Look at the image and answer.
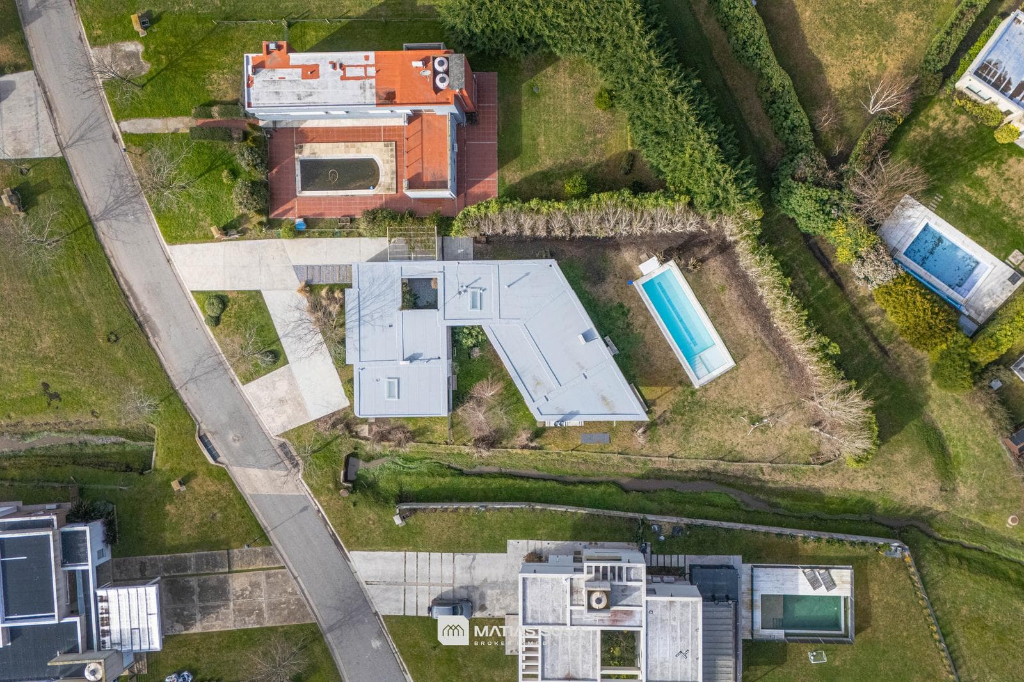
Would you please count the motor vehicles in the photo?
1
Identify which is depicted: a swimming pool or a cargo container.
swimming pool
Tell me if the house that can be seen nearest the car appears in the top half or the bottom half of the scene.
bottom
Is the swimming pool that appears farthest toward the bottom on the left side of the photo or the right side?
right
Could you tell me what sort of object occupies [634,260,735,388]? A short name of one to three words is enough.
swimming pool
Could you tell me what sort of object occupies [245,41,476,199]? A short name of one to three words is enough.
house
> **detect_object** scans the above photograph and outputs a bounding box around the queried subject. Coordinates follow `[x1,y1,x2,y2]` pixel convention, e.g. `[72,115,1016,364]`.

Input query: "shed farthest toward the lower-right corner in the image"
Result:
[994,422,1024,463]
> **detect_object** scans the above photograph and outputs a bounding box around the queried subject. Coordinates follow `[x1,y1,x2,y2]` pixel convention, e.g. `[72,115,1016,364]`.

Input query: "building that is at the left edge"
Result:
[0,510,175,682]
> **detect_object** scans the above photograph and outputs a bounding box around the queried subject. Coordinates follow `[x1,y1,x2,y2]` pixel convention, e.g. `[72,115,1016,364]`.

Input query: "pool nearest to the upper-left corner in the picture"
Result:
[295,142,396,194]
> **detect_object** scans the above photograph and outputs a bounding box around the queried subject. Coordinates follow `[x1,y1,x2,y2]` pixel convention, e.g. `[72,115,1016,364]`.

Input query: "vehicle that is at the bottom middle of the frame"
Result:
[425,598,472,623]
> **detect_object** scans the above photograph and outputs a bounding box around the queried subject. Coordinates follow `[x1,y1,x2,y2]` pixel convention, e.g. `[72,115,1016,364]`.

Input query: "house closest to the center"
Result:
[345,259,648,425]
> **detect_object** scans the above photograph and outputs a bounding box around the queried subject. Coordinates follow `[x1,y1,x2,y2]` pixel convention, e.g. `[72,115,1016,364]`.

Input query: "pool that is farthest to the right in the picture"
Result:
[876,197,1024,324]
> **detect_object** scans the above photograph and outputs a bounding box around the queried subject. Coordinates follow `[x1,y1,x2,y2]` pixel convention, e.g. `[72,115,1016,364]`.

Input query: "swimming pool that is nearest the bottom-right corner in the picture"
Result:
[752,566,850,638]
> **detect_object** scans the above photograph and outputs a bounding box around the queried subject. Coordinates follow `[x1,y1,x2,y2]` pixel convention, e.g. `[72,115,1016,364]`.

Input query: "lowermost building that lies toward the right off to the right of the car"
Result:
[519,550,738,682]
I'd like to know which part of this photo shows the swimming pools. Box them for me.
[295,142,396,194]
[634,260,735,388]
[876,197,1024,324]
[752,566,850,638]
